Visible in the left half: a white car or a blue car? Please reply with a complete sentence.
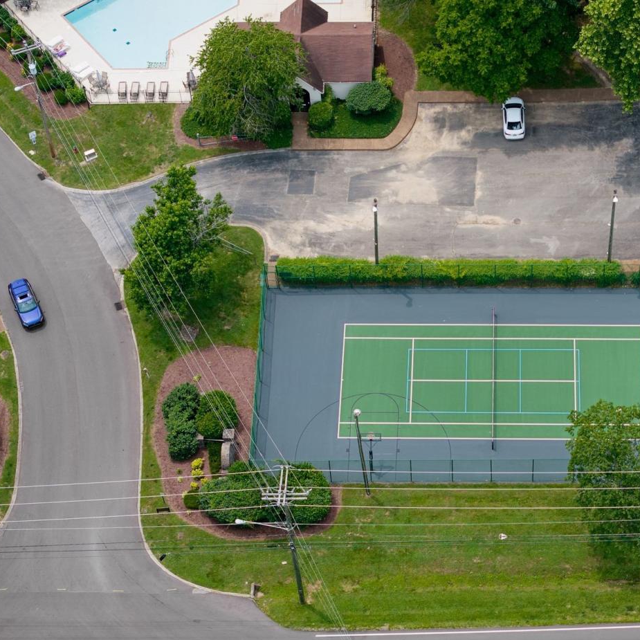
Looking in the left half, you will find a blue car.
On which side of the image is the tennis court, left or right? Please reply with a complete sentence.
You can find the tennis court on the right side of the picture.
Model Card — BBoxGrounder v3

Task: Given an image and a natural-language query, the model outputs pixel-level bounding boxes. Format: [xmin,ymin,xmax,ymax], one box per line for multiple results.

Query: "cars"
[8,279,45,331]
[501,98,526,142]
